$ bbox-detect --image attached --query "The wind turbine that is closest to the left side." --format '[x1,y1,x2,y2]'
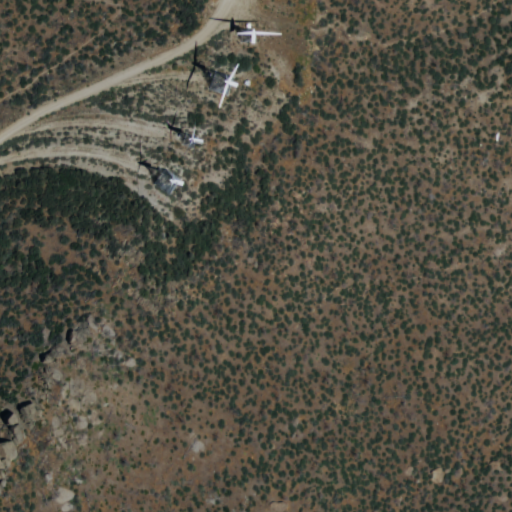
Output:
[152,168,182,206]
